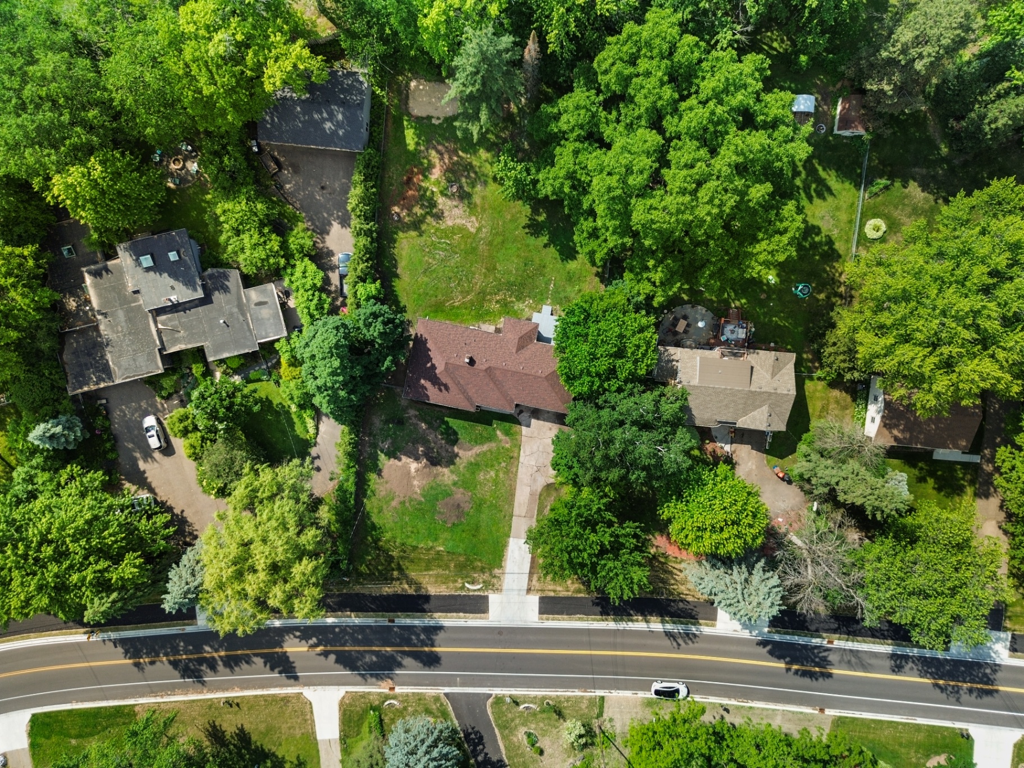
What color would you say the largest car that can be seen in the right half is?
white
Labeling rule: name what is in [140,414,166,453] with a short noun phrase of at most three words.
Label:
car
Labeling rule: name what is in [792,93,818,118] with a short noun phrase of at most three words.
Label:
shed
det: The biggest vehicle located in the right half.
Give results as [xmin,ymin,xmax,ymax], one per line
[651,680,687,700]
